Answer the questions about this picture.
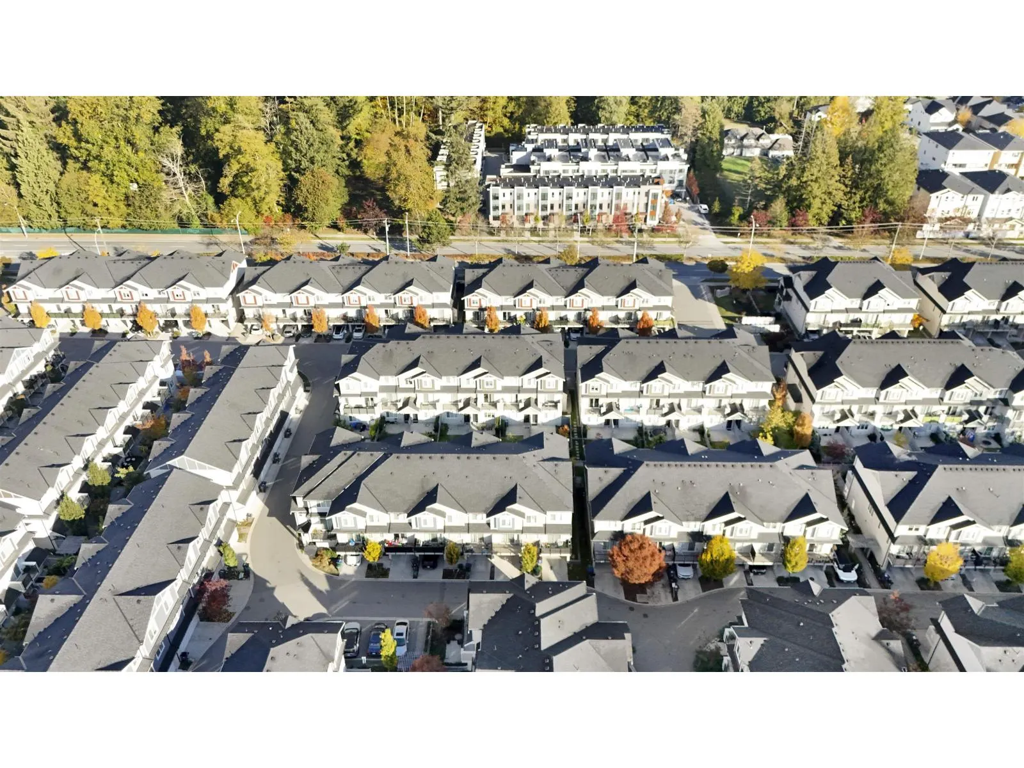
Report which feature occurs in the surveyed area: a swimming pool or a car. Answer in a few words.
car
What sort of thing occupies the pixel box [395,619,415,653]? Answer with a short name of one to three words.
car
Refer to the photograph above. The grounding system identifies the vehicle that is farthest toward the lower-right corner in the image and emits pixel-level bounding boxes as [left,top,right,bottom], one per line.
[830,554,855,583]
